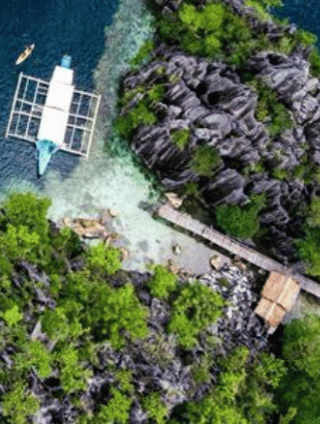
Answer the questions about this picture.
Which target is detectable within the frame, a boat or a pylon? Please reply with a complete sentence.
This aerial view contains a boat.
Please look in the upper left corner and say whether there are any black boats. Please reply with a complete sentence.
No, in the upper left corner there is no black boat.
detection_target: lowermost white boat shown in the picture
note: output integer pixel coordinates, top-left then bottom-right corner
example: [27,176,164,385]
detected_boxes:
[5,55,100,175]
